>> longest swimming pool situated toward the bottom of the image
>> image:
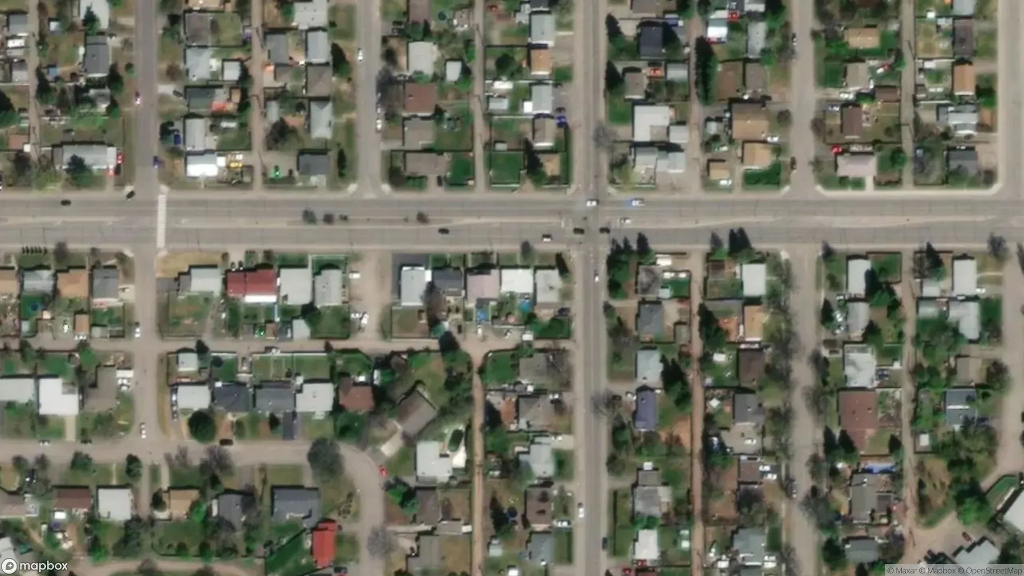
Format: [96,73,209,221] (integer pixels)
[449,428,463,451]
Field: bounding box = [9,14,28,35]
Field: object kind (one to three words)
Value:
building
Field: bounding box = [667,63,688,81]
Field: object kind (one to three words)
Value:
building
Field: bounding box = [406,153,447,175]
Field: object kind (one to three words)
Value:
house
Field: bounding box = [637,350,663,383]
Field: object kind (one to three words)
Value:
house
